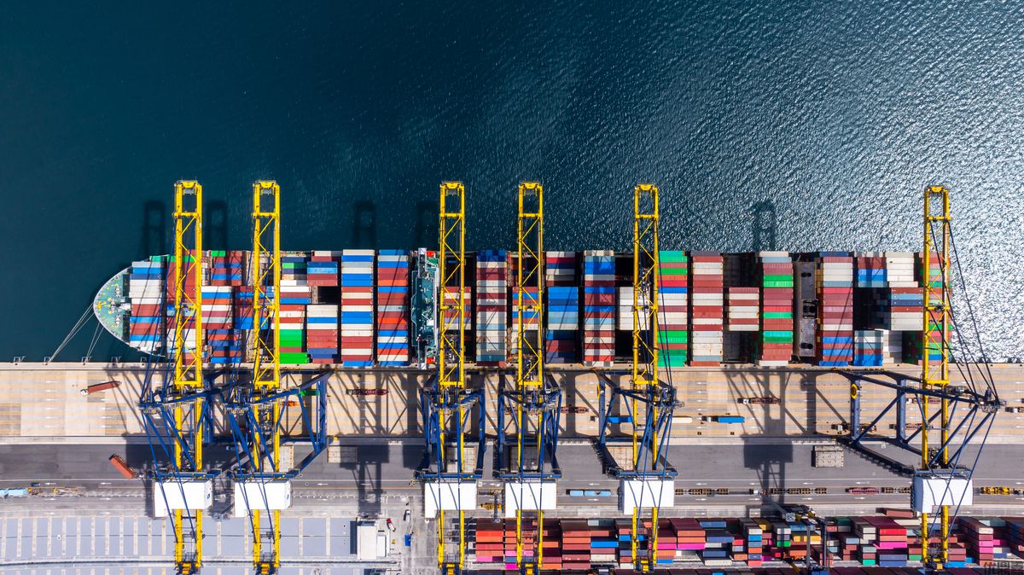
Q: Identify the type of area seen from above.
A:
port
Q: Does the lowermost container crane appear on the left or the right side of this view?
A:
right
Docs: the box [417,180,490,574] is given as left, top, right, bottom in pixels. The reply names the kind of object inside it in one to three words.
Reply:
container crane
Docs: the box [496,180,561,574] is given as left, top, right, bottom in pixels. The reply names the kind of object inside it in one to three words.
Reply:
container crane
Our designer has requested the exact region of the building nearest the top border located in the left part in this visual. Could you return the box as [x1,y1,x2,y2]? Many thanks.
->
[357,518,391,559]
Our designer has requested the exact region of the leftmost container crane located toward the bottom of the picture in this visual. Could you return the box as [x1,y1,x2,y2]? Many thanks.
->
[131,177,274,574]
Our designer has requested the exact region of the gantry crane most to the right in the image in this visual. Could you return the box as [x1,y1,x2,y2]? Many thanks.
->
[833,182,1014,574]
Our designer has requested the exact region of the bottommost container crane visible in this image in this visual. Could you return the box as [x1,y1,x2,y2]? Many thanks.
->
[776,507,832,575]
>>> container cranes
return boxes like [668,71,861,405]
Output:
[131,177,274,574]
[776,507,832,575]
[219,177,338,574]
[496,180,561,574]
[417,180,490,574]
[595,180,685,574]
[833,182,1014,574]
